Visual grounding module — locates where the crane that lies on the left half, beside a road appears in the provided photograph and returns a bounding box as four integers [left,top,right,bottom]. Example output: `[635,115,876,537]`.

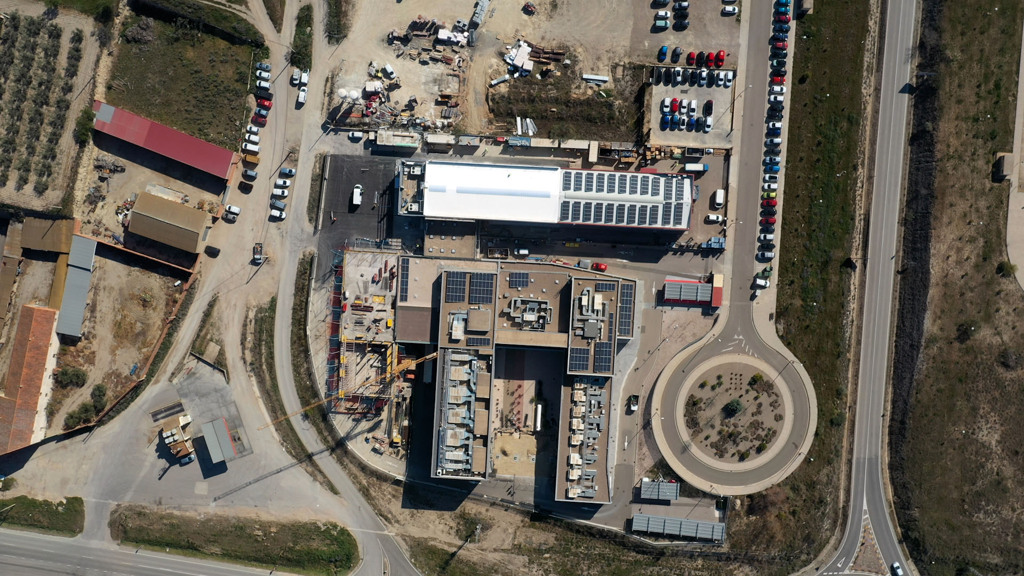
[259,350,440,429]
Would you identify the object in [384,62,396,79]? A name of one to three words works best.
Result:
vehicle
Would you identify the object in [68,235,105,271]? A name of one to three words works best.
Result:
shed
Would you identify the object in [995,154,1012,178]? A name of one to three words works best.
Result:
shed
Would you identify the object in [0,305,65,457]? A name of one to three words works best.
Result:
building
